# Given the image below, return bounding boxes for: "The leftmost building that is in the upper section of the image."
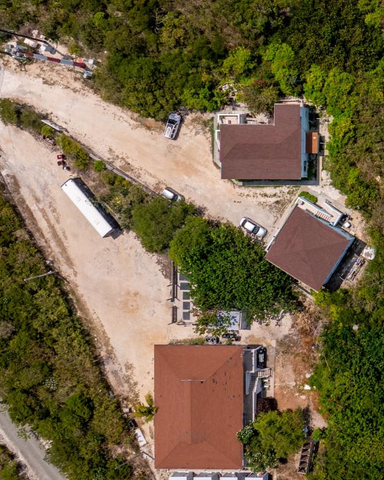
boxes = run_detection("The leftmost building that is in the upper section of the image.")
[216,100,308,179]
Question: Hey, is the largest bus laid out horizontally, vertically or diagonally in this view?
diagonally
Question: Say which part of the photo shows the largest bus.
left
